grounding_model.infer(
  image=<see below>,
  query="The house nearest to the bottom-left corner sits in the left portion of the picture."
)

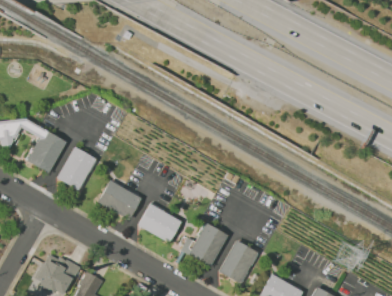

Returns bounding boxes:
[28,257,80,296]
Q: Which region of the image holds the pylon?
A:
bottom right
